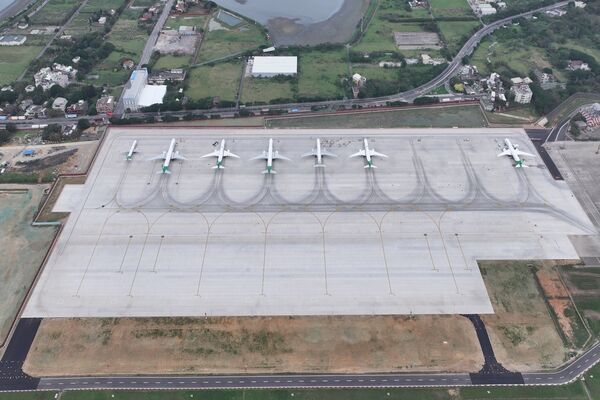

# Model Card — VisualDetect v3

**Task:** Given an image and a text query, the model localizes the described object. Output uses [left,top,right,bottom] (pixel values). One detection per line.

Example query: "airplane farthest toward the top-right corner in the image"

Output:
[496,138,535,168]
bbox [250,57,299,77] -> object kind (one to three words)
building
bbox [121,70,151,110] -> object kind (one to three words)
building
